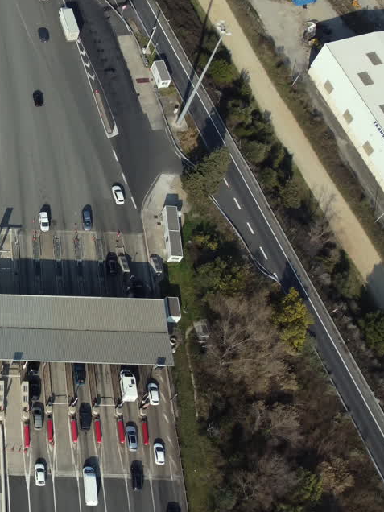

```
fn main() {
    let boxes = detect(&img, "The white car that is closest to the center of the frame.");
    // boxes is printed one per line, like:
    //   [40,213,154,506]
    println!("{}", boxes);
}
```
[112,186,125,204]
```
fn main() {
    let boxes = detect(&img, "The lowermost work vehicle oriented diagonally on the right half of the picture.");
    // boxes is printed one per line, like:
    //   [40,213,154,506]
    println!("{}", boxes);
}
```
[308,29,325,46]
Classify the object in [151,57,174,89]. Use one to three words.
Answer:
shed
